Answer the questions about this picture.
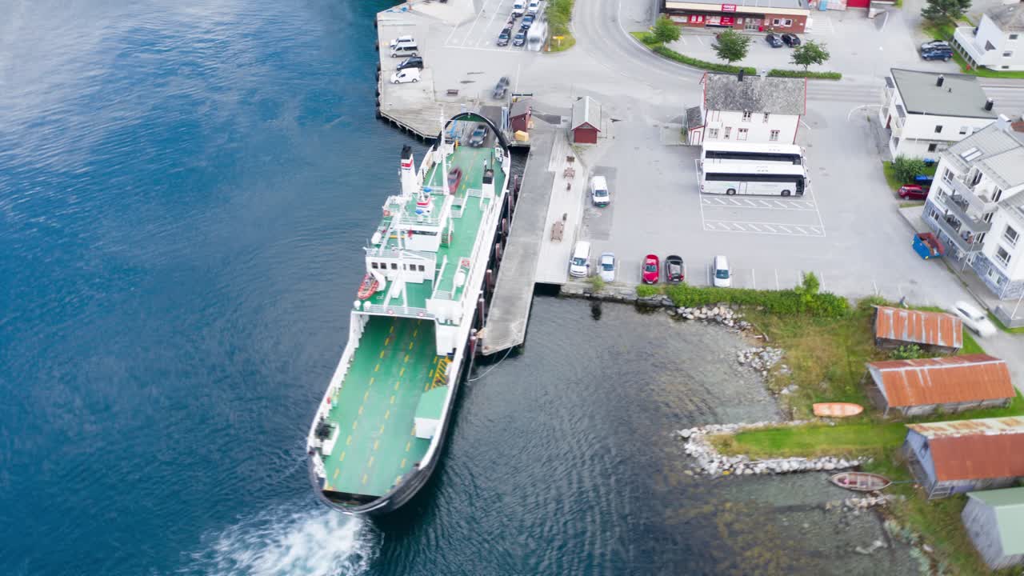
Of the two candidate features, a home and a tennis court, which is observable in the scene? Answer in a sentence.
Looking from above, you can make out a home.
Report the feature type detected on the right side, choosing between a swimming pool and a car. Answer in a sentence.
You can see a car on the right side.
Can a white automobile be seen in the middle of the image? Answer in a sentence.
Yes, looking in the middle of the image, one can make out a white automobile.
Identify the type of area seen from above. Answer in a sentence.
This looks like a port.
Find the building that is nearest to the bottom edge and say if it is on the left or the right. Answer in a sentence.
It is on the right.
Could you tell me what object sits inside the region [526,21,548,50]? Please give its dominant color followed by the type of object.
white camper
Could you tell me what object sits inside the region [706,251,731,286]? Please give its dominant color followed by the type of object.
white car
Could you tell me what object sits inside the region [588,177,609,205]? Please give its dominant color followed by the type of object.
white vehicle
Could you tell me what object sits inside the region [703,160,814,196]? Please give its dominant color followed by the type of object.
white bus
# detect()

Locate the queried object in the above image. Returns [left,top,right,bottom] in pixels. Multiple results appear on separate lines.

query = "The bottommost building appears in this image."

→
[960,486,1024,564]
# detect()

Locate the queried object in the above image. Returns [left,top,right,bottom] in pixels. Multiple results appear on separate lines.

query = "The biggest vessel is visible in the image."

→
[308,105,509,522]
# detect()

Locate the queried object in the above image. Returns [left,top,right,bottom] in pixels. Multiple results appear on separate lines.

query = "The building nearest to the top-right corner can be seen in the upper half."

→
[941,2,1024,68]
